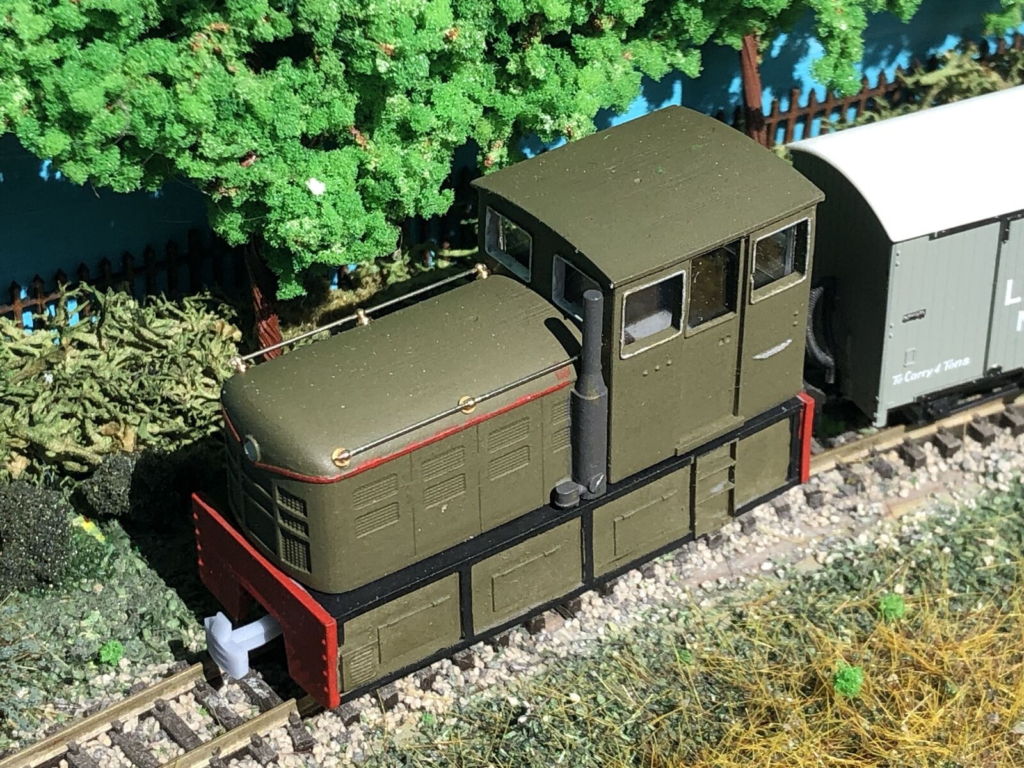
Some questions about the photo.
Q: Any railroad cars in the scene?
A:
Yes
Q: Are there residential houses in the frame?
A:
No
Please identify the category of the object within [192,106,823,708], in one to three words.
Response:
rail car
